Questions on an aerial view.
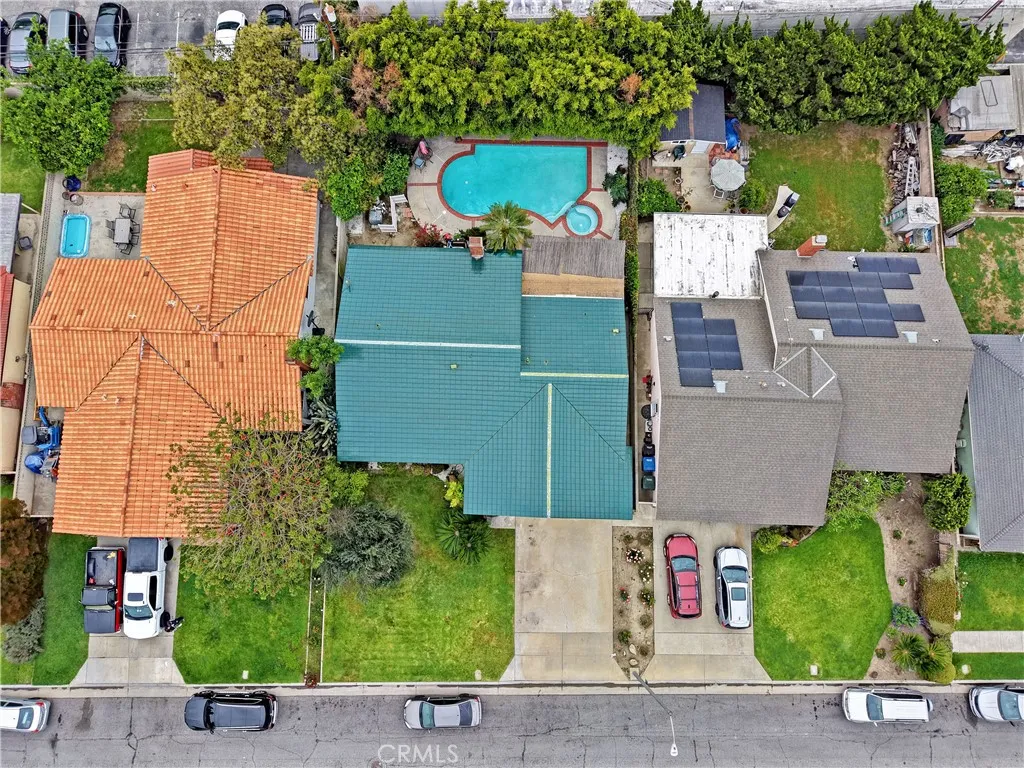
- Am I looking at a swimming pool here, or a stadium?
swimming pool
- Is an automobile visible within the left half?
Yes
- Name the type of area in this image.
residential area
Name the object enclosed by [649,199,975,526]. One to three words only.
house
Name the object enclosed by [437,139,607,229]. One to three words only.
swimming pool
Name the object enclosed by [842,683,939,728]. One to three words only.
car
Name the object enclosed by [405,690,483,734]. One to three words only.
car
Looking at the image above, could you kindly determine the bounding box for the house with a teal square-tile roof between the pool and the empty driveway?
[334,236,633,520]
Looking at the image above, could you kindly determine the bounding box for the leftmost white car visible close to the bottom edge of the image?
[0,694,56,733]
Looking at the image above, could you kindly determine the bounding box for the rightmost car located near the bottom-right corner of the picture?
[963,683,1024,727]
